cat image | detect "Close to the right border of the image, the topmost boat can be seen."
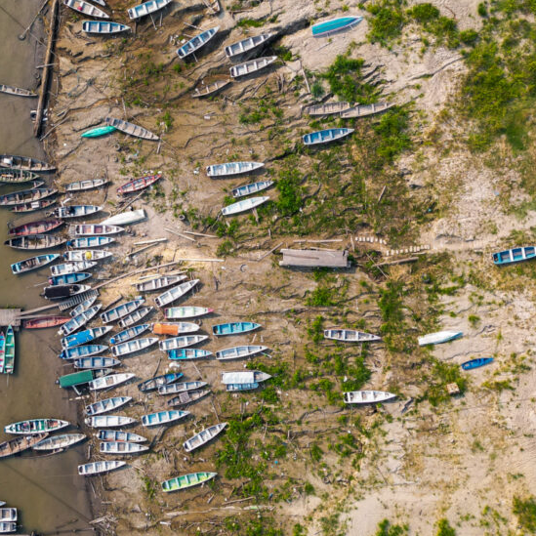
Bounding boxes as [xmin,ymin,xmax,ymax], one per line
[492,247,536,264]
